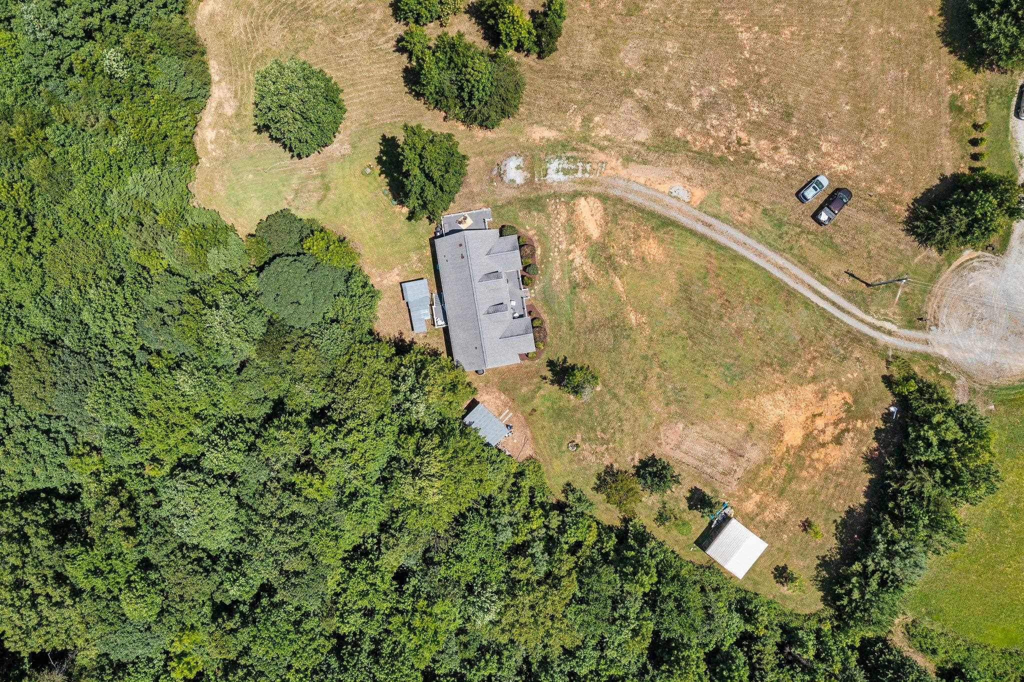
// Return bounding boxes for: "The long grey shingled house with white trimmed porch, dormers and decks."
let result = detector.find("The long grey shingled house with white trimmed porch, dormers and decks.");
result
[431,207,536,373]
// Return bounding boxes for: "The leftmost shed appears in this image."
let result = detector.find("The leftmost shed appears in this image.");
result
[401,279,430,332]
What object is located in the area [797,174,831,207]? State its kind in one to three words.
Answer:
car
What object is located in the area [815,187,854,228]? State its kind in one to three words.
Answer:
truck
